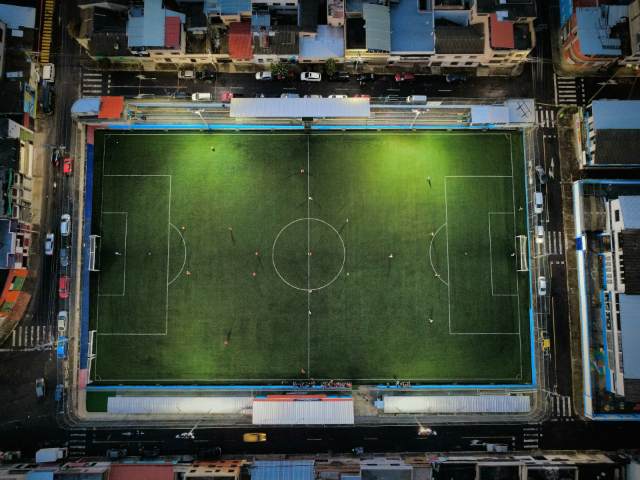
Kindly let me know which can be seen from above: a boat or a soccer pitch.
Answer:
soccer pitch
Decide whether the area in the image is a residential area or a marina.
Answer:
residential area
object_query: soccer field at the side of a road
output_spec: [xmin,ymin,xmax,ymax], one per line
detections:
[88,128,531,386]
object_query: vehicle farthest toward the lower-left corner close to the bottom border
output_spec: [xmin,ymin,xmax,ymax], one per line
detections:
[36,446,71,461]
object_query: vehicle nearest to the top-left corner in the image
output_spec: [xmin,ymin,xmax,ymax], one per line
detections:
[42,64,57,117]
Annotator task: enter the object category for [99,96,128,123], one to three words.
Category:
building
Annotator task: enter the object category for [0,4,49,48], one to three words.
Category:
house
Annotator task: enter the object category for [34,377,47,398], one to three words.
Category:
vehicle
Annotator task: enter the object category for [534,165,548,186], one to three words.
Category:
vehicle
